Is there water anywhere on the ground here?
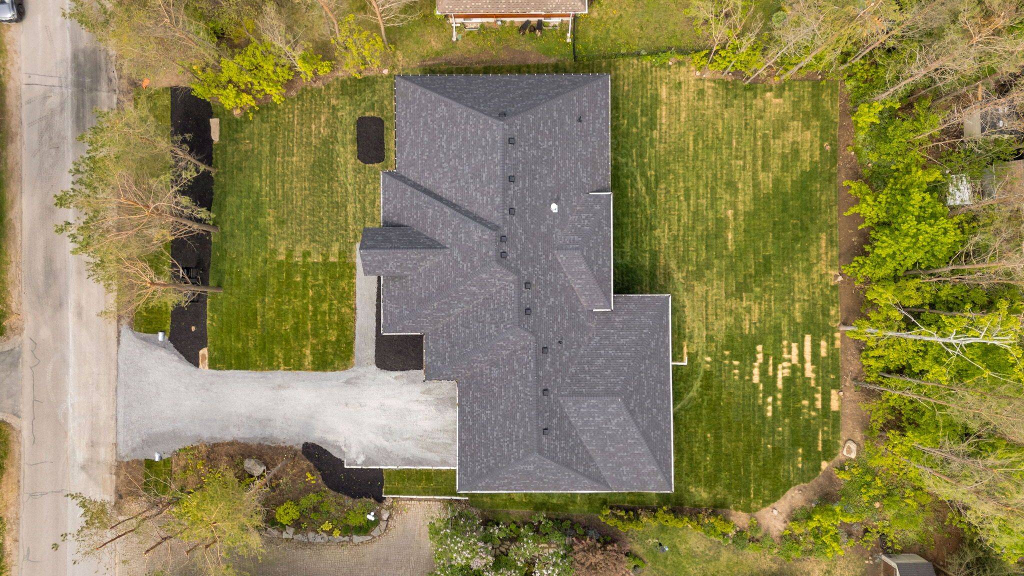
No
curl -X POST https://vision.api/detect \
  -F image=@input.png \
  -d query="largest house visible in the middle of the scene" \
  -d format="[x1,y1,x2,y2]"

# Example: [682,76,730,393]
[359,73,673,494]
